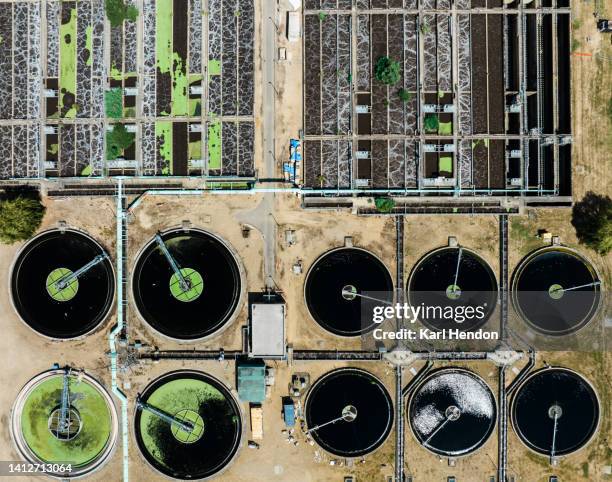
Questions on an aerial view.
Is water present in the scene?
Yes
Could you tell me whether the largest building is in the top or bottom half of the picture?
bottom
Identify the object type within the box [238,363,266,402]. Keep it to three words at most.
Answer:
shed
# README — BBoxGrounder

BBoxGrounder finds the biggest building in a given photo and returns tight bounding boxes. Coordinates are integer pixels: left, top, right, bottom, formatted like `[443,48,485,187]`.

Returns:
[252,301,287,357]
